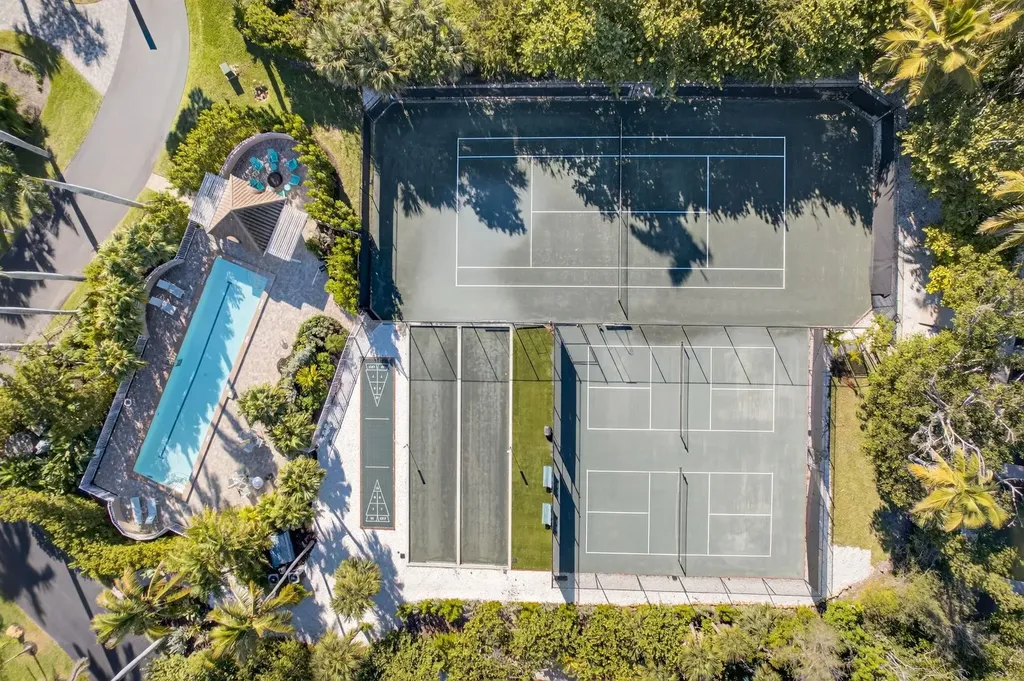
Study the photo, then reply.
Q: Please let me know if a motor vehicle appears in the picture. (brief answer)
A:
No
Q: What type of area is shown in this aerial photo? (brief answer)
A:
sports ground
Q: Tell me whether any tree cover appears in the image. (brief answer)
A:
Yes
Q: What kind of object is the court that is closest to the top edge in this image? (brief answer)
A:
tennis court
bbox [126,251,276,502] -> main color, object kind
blue swimming pool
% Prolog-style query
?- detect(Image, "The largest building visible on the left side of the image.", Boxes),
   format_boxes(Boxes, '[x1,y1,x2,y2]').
[184,168,315,262]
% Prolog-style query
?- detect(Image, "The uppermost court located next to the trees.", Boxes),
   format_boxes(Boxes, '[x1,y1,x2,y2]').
[370,102,875,325]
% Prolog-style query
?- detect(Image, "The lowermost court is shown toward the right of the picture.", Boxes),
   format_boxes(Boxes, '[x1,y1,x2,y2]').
[554,450,807,580]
